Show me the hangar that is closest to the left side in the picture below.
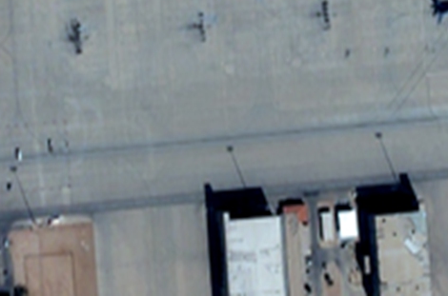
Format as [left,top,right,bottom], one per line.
[216,212,285,296]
